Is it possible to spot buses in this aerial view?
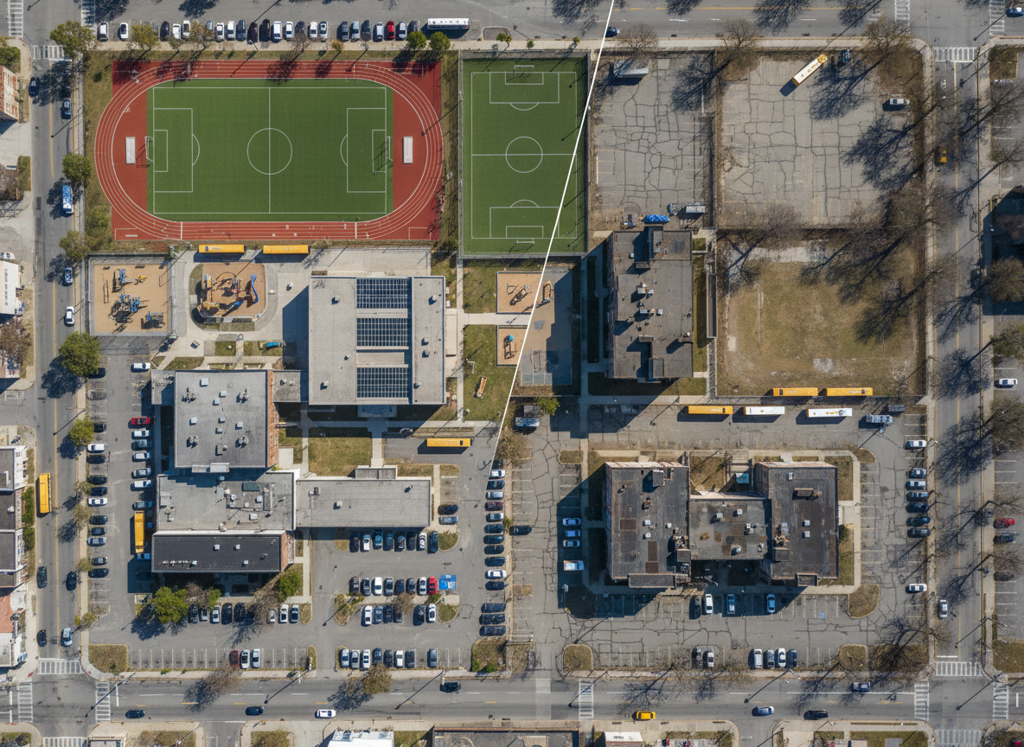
Yes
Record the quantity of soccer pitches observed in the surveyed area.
2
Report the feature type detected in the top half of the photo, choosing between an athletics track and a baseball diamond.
athletics track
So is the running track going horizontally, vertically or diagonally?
horizontally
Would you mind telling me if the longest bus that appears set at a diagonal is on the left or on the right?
right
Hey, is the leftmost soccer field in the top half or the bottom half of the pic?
top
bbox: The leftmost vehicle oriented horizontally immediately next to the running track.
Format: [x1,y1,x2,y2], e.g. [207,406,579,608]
[199,243,248,255]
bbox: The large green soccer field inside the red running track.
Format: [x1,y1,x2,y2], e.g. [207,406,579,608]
[146,79,393,221]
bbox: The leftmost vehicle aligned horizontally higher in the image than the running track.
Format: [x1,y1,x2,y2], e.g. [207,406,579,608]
[428,19,471,33]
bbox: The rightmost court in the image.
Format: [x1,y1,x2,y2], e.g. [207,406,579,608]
[522,342,572,386]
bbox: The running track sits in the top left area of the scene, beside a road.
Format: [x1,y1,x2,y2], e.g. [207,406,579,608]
[94,60,443,240]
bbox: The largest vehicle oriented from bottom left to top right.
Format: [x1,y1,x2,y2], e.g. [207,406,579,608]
[787,53,830,91]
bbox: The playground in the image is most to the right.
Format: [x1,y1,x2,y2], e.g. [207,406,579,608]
[198,264,264,316]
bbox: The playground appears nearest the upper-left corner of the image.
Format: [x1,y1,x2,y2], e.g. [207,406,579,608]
[89,254,174,335]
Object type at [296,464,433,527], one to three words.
building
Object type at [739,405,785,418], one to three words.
vehicle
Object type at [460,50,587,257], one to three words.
soccer field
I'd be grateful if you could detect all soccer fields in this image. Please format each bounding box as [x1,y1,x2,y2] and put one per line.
[146,79,393,221]
[460,50,587,257]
